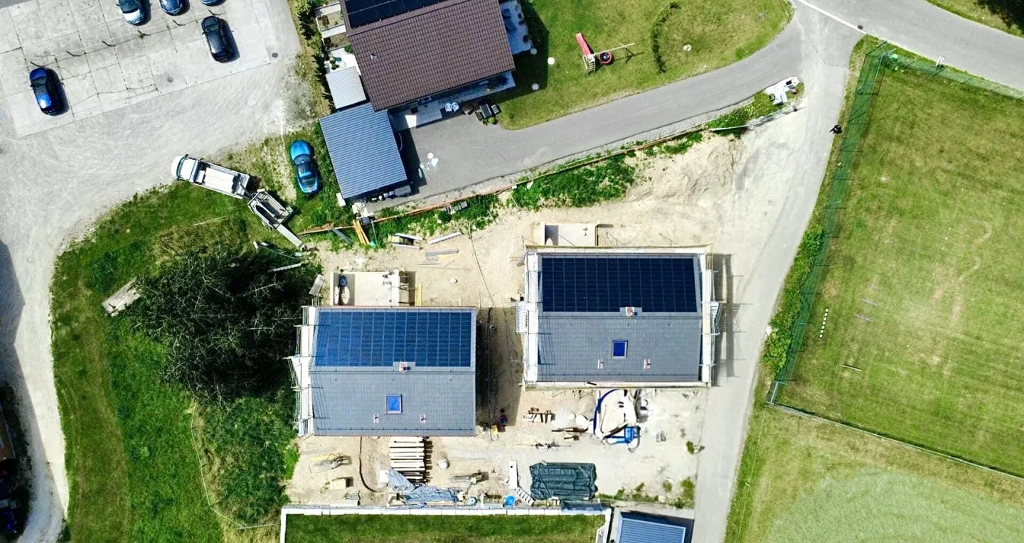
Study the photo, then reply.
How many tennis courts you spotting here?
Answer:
0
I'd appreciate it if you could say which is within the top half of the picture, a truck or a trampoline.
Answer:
truck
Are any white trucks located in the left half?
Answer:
Yes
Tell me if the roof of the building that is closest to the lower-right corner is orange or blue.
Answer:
blue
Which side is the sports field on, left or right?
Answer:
right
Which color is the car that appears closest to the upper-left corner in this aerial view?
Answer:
blue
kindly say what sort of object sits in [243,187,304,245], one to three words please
trailer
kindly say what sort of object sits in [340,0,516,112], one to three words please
house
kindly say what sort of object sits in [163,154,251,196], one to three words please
truck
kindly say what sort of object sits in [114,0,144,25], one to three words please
car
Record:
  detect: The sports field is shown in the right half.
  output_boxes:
[768,66,1024,477]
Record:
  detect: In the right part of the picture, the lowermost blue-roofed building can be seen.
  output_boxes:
[615,511,687,543]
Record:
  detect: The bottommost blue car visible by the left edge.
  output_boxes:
[24,64,60,113]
